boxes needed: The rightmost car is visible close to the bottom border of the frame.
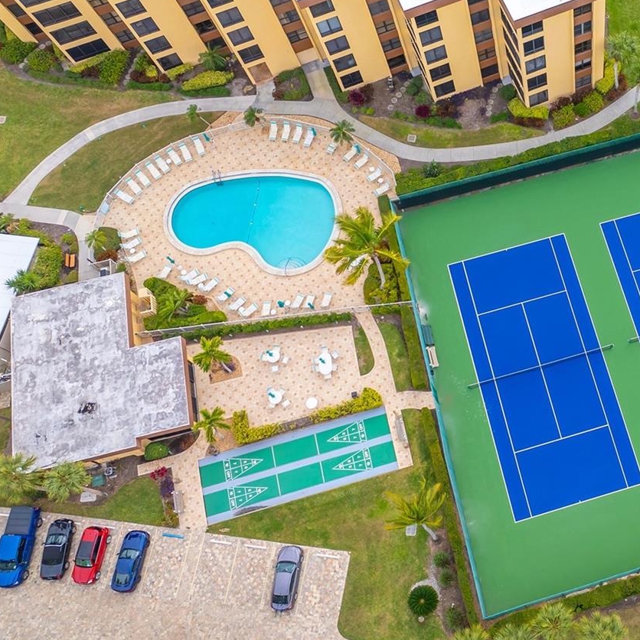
[269,545,304,612]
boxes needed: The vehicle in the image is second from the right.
[109,529,154,595]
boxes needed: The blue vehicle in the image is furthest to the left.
[0,507,45,586]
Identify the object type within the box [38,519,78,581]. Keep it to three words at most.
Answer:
car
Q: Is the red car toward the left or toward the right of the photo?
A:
left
